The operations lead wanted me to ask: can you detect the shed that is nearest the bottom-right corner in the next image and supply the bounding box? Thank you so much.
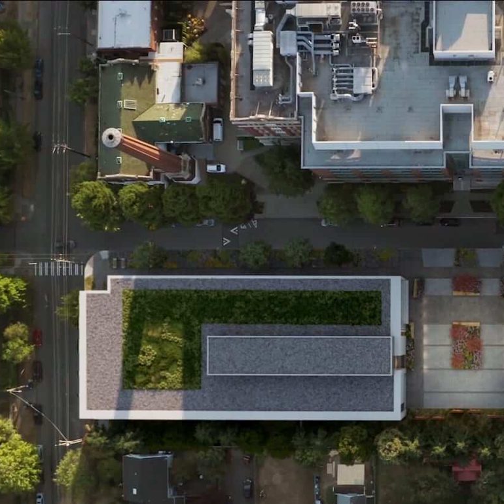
[452,461,481,482]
